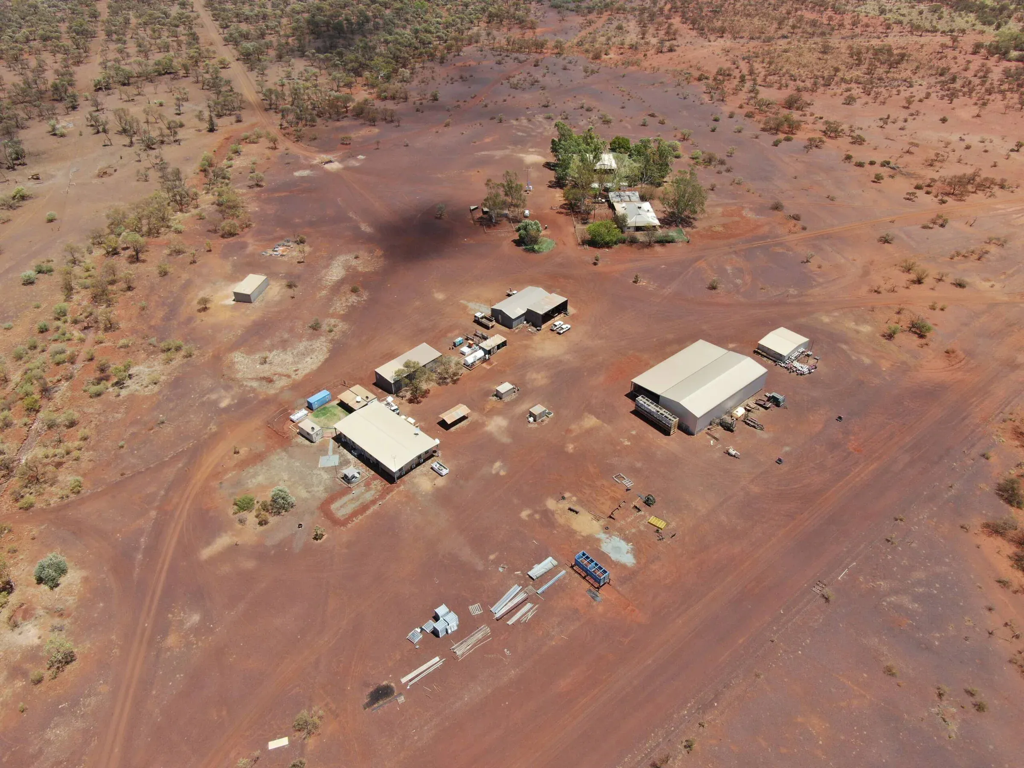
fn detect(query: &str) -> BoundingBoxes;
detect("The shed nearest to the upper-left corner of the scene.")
[231,279,267,306]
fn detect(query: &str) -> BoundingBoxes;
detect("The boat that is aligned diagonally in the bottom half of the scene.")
[433,462,450,476]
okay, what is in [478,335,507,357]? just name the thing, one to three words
shed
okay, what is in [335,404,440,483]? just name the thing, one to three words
building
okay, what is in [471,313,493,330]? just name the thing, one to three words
vehicle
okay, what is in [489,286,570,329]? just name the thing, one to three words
building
